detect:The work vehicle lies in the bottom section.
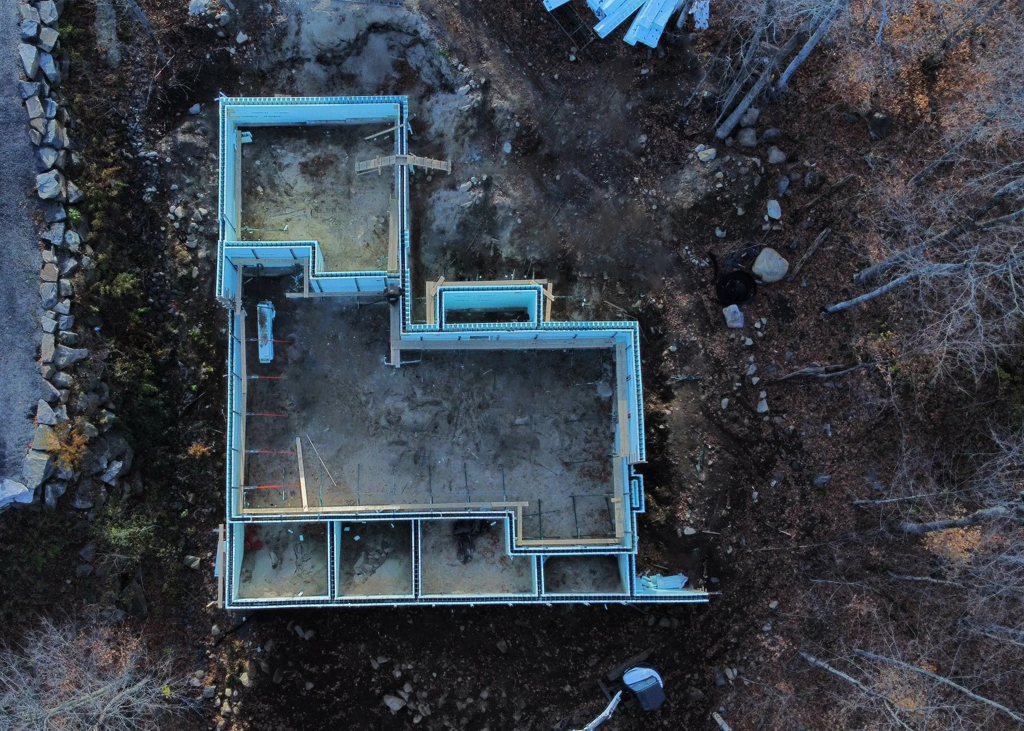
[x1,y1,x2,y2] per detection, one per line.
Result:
[582,653,665,731]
